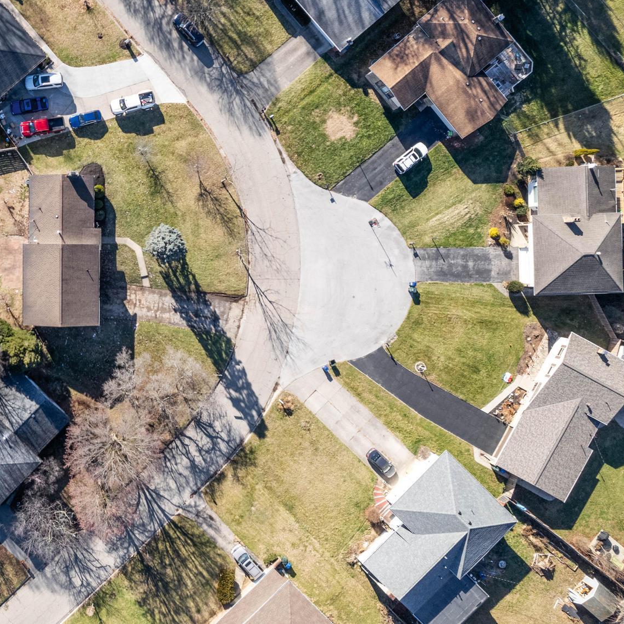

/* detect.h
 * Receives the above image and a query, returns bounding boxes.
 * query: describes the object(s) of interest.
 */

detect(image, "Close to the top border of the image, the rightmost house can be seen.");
[365,0,514,140]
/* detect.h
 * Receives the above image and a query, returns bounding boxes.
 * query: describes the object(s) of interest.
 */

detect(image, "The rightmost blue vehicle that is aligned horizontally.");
[68,111,102,129]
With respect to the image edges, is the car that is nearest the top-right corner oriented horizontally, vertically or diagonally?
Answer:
diagonally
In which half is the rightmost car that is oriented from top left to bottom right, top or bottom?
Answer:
bottom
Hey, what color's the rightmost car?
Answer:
white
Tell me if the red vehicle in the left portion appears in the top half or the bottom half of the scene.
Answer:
top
